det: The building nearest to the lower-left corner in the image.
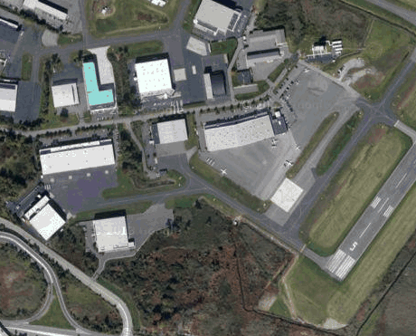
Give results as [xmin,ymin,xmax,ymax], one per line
[24,196,66,240]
